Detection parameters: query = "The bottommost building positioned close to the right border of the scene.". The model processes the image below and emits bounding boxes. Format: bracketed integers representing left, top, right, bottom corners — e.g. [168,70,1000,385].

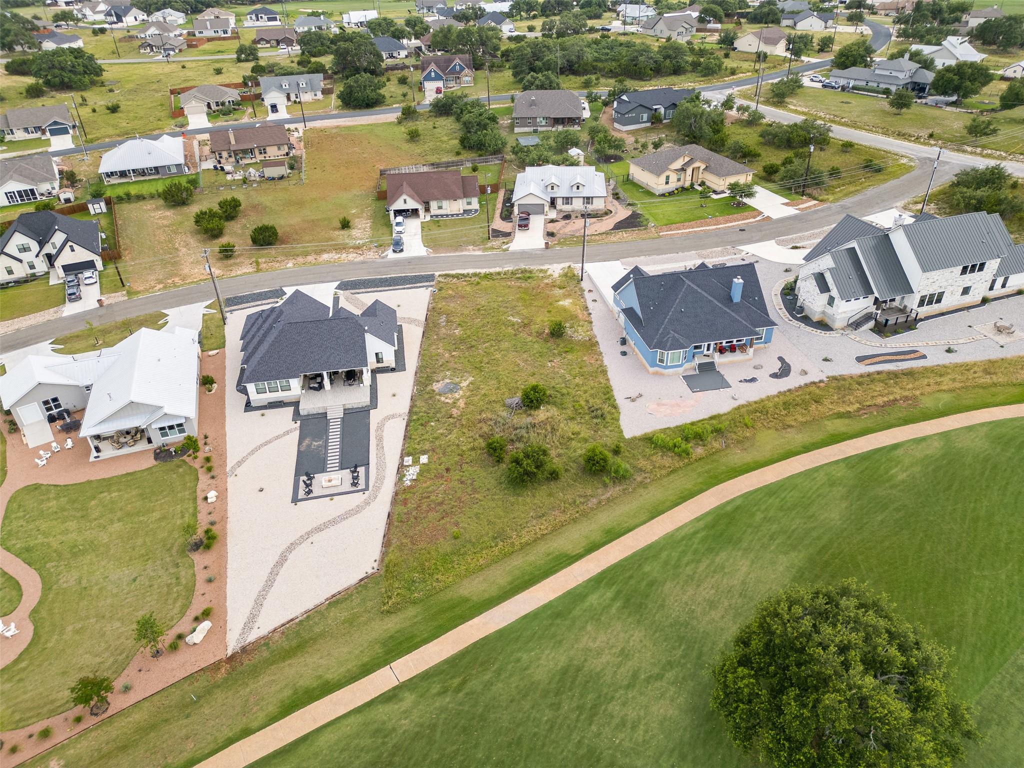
[792,206,1024,333]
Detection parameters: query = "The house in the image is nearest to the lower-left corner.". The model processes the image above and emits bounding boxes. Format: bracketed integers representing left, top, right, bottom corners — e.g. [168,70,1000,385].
[7,319,204,461]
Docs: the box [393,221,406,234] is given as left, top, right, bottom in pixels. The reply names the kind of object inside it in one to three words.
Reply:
vehicle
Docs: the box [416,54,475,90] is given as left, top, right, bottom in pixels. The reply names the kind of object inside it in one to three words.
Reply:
house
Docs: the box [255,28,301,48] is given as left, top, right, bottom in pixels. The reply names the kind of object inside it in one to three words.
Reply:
house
